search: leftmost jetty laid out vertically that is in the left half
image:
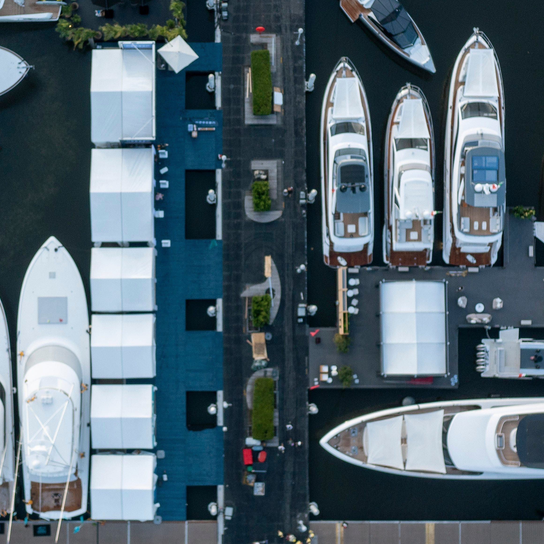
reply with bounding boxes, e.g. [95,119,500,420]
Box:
[91,44,224,520]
